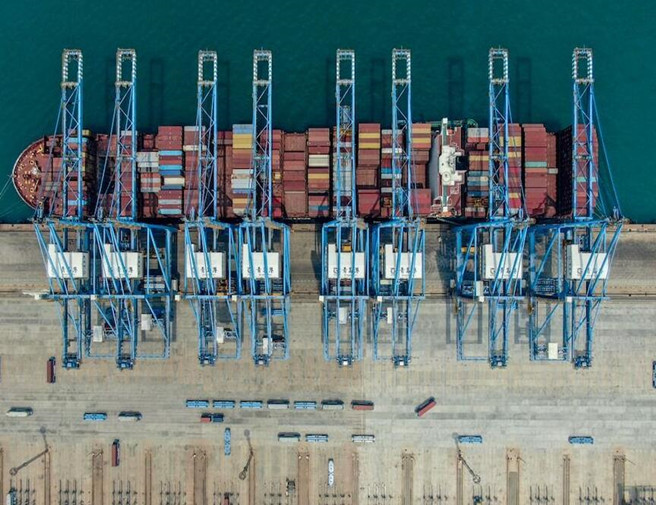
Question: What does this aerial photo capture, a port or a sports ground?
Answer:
port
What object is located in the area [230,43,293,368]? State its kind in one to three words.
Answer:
container crane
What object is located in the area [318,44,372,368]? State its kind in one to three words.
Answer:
container crane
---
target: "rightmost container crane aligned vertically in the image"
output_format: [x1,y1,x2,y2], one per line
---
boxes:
[525,45,634,367]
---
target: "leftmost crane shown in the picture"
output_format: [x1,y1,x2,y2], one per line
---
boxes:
[10,42,127,368]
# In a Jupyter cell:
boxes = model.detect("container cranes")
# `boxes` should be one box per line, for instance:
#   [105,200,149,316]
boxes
[230,43,293,368]
[172,43,247,368]
[10,42,127,368]
[525,45,634,367]
[368,44,430,367]
[450,44,539,367]
[318,44,372,368]
[85,42,177,368]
